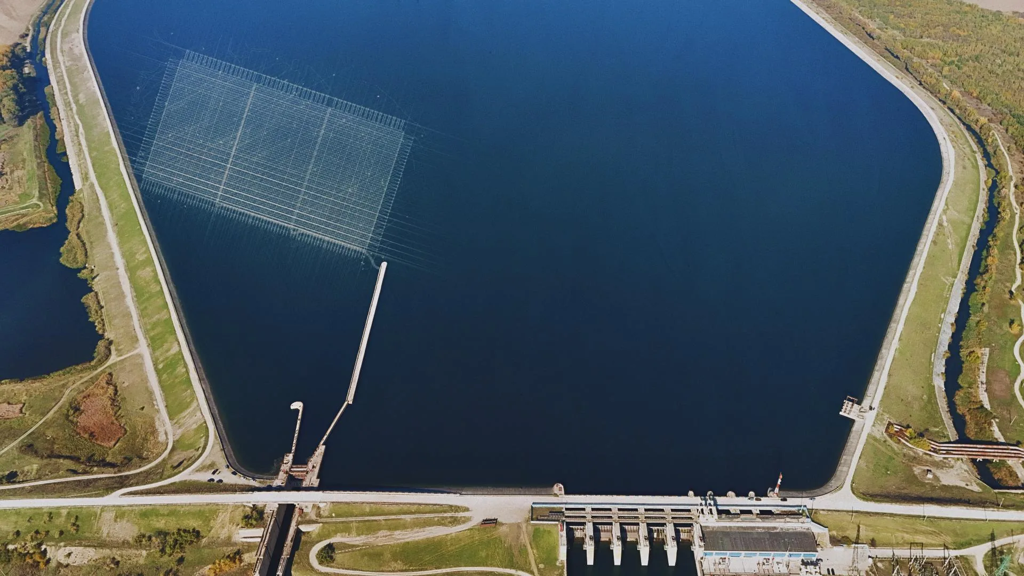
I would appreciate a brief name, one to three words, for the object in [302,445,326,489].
pier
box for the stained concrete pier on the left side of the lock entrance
[273,454,294,489]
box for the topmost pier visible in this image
[346,262,387,405]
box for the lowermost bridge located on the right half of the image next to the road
[559,508,702,524]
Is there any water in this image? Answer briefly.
Yes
